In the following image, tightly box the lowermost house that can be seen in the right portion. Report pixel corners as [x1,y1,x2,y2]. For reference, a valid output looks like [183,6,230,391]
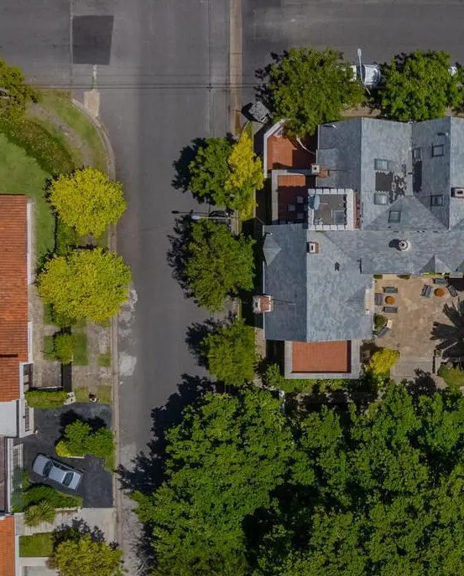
[251,117,464,379]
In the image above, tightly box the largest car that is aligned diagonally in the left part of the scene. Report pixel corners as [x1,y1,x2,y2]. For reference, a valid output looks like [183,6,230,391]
[30,452,85,492]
